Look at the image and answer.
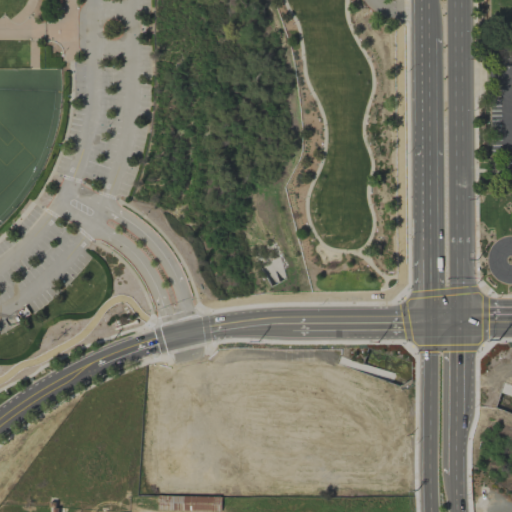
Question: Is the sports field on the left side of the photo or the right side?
left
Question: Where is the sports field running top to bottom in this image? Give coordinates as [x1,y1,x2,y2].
[0,69,63,227]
